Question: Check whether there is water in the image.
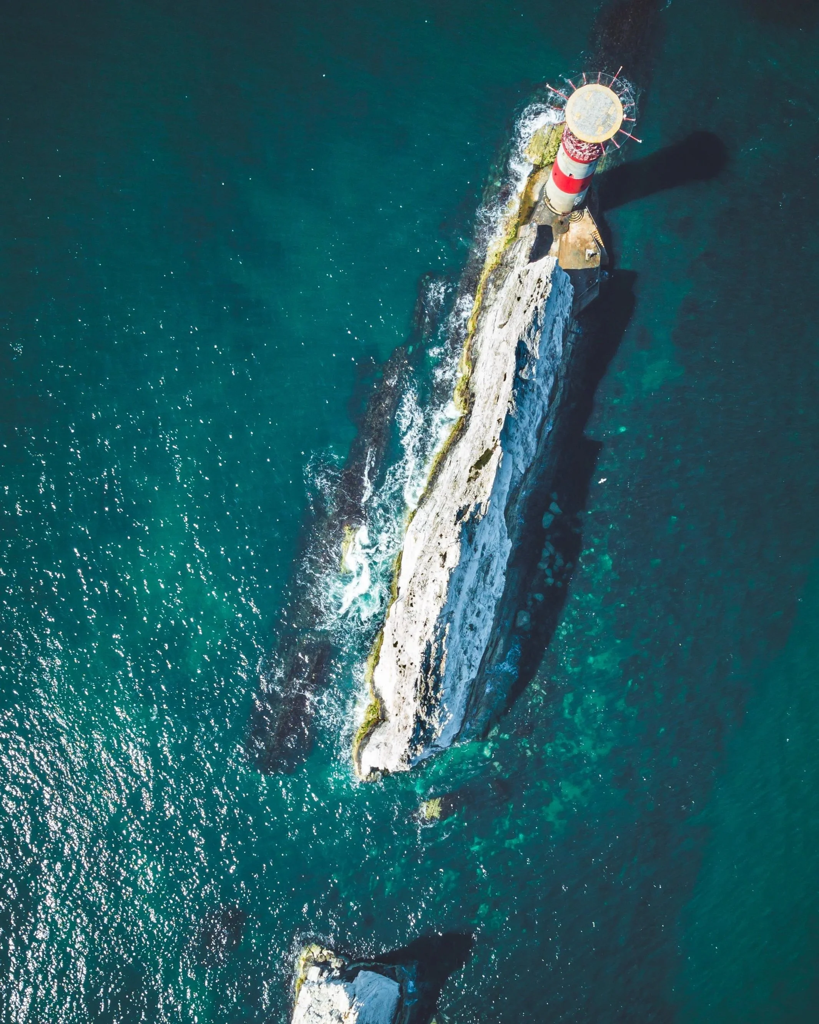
Yes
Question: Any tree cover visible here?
No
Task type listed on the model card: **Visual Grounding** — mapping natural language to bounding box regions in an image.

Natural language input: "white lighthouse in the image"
[541,68,641,216]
